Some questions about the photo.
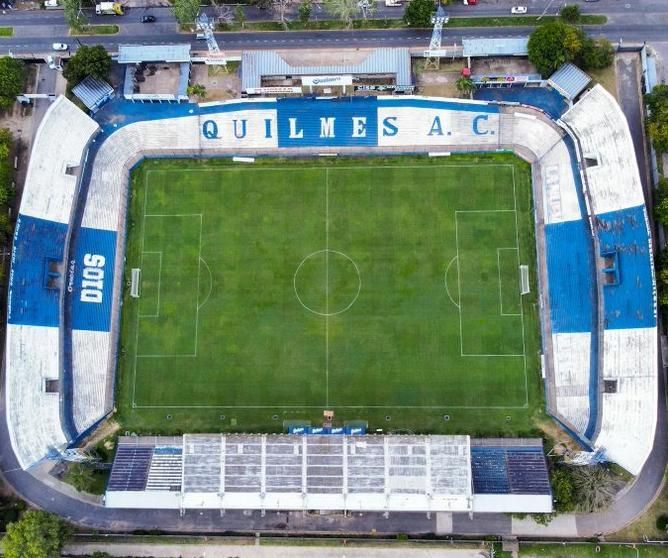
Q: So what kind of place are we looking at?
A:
sports ground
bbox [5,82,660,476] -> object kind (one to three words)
stadium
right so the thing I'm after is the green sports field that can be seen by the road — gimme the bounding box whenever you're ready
[113,155,552,441]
